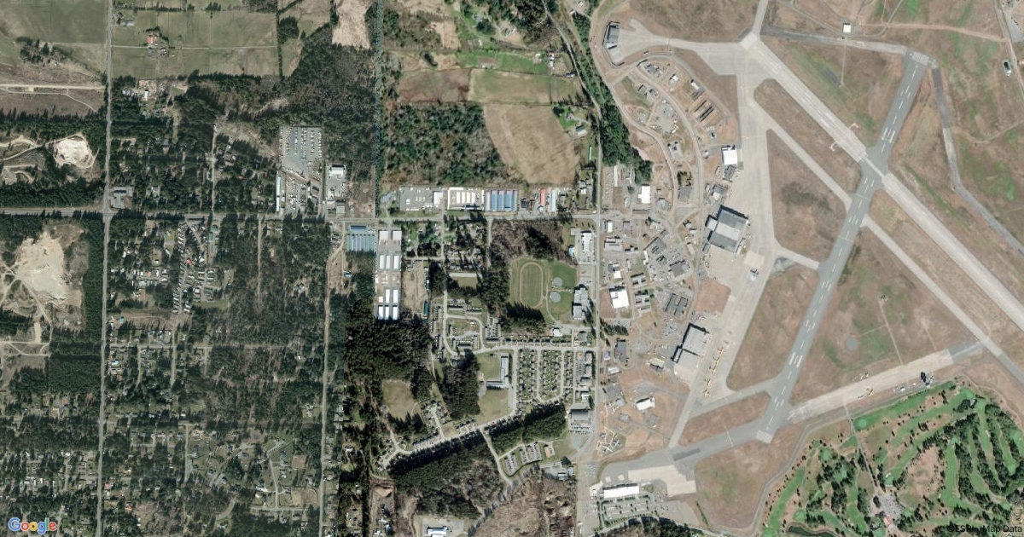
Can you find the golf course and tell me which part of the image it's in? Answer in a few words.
bottom right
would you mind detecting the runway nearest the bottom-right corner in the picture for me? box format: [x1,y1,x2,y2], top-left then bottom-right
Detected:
[788,341,983,423]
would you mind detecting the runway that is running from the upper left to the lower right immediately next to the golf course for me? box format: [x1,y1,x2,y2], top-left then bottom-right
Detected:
[737,27,1024,337]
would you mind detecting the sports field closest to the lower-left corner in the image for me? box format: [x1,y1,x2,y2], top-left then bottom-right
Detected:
[384,383,414,416]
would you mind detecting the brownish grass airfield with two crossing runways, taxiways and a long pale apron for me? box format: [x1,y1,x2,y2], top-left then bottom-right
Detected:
[601,0,1024,497]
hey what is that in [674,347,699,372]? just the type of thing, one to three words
hangar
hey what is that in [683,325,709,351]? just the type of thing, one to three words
hangar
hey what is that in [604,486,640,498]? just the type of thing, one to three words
building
